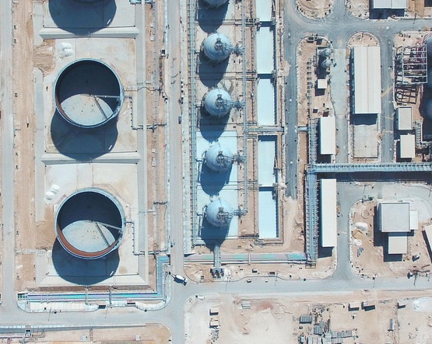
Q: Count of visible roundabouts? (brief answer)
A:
0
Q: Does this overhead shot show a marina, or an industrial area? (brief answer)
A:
industrial area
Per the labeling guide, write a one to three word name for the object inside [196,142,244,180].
storage tank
